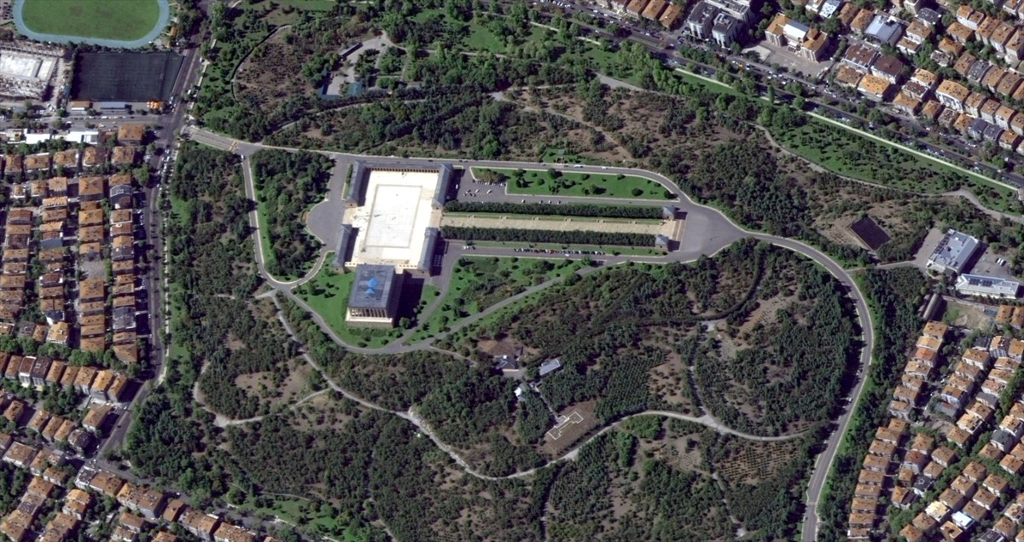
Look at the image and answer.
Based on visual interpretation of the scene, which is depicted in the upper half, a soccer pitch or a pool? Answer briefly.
soccer pitch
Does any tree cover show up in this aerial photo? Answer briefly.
Yes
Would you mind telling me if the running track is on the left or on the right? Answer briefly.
left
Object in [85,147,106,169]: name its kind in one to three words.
building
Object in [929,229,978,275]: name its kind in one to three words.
building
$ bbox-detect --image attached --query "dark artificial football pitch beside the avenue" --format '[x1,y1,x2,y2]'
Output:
[71,53,183,101]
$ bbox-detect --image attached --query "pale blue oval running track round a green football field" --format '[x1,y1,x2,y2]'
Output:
[13,0,169,47]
